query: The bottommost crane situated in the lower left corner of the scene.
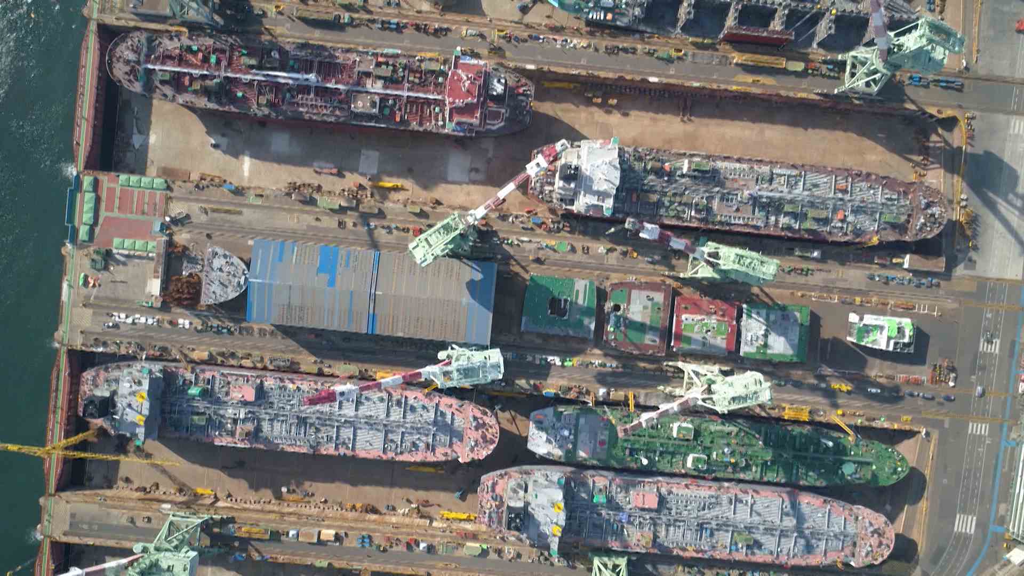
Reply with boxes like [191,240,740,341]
[1,512,210,576]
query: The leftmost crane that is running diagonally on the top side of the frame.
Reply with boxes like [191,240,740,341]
[405,143,563,275]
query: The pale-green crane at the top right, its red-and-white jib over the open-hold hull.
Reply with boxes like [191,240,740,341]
[833,0,958,96]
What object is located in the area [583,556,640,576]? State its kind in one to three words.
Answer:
crane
